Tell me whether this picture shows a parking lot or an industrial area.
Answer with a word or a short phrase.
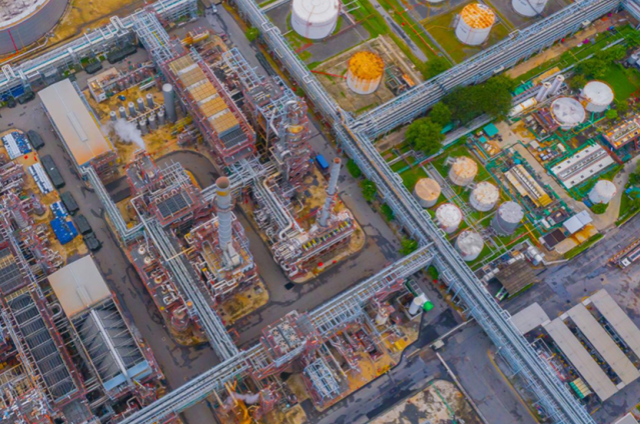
industrial area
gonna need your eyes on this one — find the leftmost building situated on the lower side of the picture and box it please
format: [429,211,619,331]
[47,254,110,315]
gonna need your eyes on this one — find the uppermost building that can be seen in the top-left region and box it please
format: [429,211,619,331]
[87,72,119,105]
